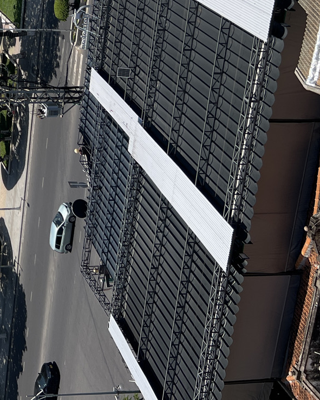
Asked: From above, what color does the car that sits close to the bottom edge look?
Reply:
black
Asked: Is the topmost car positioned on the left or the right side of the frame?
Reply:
left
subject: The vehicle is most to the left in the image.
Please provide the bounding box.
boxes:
[32,356,57,400]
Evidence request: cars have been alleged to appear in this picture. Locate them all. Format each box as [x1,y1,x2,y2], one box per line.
[32,356,57,400]
[44,196,74,253]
